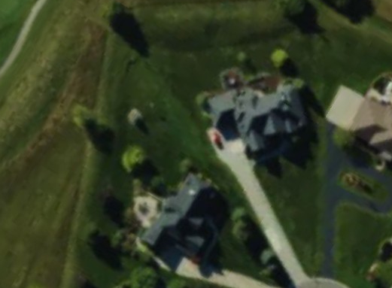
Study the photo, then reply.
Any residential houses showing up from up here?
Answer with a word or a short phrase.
Yes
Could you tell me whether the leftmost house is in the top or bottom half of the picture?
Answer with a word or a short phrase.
bottom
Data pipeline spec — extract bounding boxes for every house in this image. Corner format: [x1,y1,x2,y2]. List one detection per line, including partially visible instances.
[138,167,226,263]
[348,94,392,163]
[204,80,311,159]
